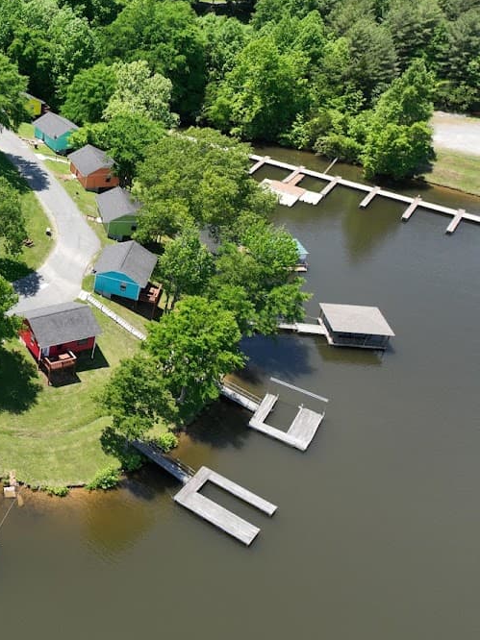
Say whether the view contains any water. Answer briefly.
Yes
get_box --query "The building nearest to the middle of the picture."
[283,239,309,276]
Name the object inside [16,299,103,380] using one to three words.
building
